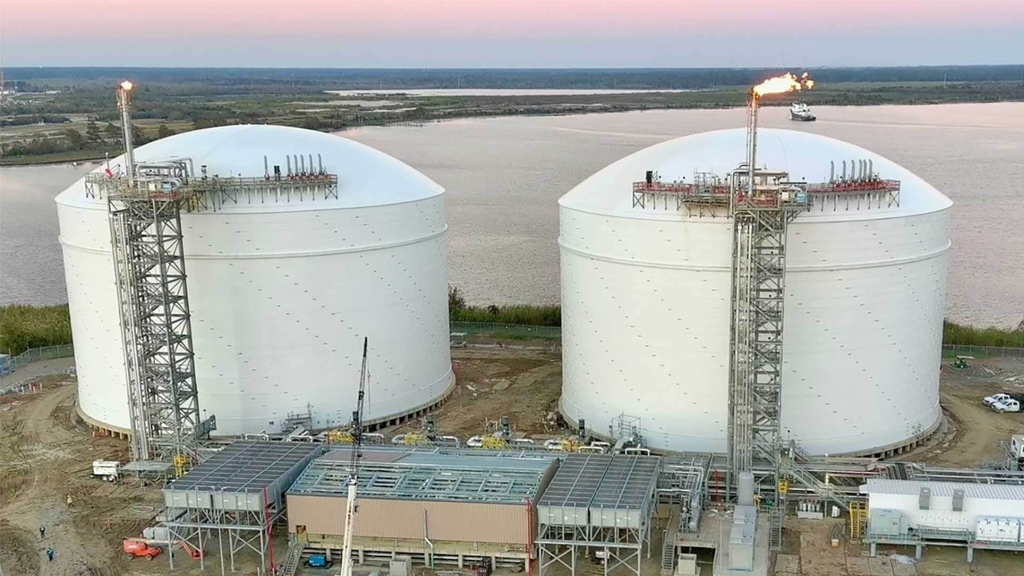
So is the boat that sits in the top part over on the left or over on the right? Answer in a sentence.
The boat that sits in the top part appears in the right half of the scene.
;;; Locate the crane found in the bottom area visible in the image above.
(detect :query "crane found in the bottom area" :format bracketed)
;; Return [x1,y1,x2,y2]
[337,336,377,576]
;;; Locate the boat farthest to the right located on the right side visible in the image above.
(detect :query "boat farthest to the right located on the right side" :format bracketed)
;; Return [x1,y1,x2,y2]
[791,98,817,120]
